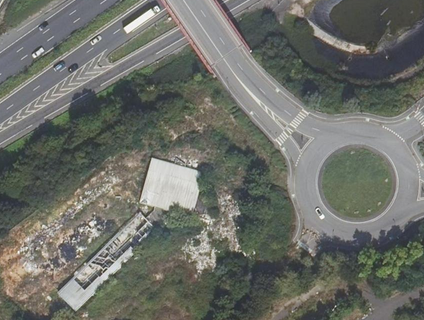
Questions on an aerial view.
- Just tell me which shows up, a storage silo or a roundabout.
roundabout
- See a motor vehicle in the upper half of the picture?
Yes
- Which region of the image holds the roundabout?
right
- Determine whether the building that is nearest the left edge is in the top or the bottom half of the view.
bottom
